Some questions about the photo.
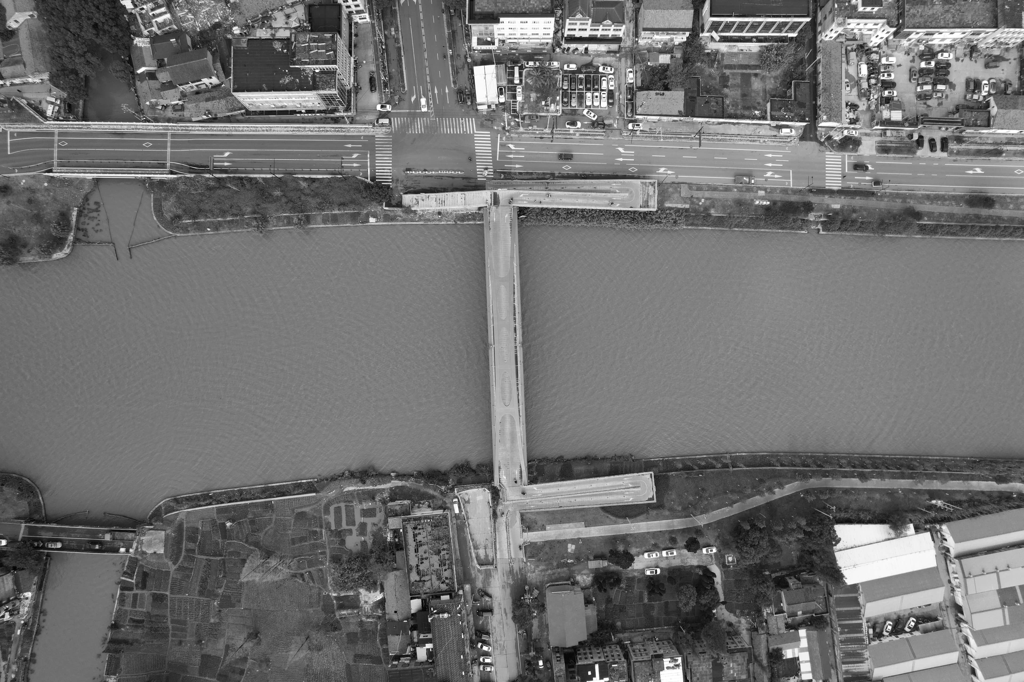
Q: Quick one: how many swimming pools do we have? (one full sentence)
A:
The photo contains no swimming pools.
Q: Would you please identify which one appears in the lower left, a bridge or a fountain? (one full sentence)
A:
What appears in the lower left is a bridge.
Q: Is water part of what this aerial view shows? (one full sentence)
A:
Yes, there is water in the image.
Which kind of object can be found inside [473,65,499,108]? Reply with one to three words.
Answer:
shed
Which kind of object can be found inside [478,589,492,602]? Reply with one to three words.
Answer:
vehicle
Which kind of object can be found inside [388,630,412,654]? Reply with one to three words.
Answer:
building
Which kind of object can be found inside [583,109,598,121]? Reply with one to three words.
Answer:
vehicle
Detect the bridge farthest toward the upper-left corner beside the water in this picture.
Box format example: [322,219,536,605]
[43,120,341,180]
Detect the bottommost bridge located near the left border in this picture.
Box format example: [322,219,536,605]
[0,522,140,555]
